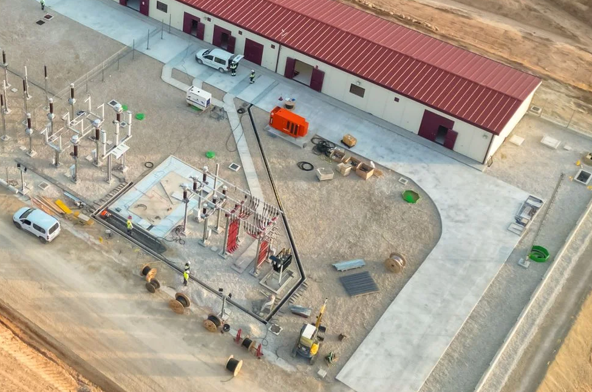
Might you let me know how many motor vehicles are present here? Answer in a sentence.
The count of motor vehicles comes to 3.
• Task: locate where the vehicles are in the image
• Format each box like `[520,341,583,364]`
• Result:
[14,205,63,246]
[196,44,245,72]
[291,303,331,360]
